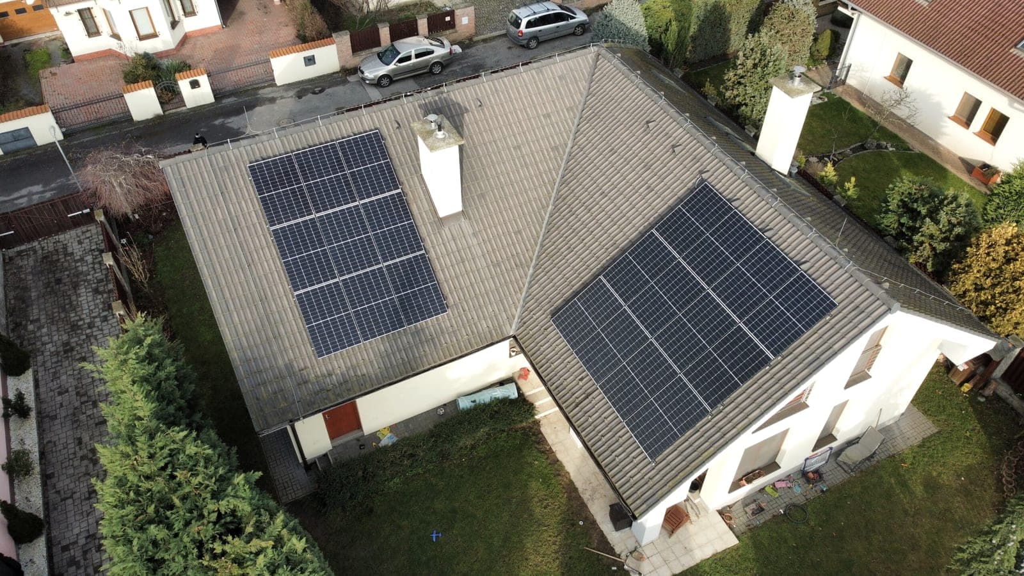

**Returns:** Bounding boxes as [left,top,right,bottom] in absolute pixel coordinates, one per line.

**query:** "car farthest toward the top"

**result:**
[503,0,594,48]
